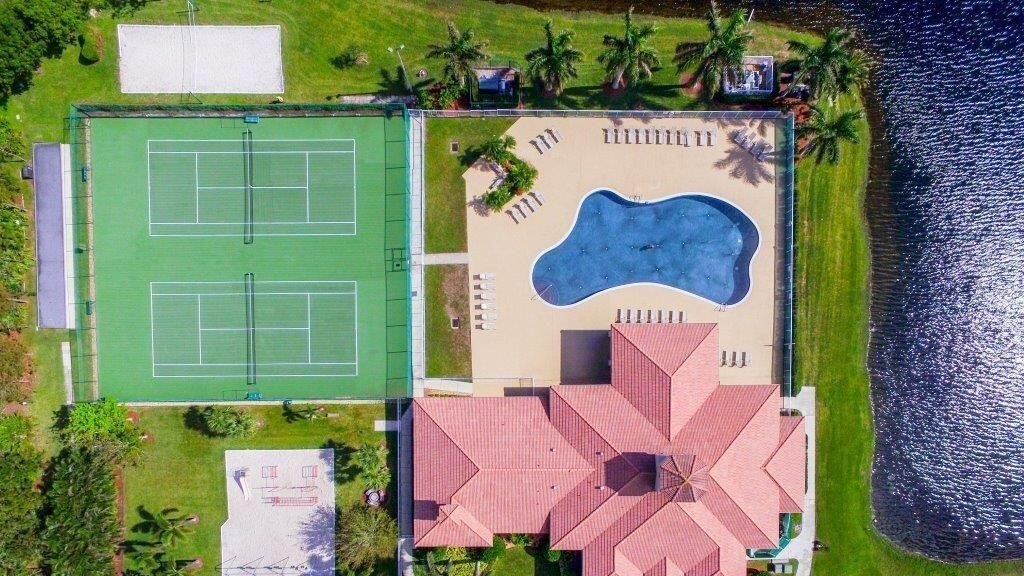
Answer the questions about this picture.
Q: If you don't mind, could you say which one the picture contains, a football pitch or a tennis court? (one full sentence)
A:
Visible in the photo is a tennis court.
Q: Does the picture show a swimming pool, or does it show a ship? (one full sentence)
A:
This aerial view contains a swimming pool.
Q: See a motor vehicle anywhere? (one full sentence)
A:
No, there's no motor vehicle here.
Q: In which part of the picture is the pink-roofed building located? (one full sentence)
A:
The pink-roofed building appears toward the bottom of the photo.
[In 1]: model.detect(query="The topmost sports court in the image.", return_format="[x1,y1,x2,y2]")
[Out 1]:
[117,0,284,108]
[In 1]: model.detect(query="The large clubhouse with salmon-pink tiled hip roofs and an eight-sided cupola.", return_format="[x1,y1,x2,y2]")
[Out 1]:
[413,322,806,576]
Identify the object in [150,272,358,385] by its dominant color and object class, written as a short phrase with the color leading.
green tennis court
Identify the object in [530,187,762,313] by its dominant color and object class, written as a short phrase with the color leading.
blue swimming pool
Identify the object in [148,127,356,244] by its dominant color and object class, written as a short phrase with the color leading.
green tennis court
